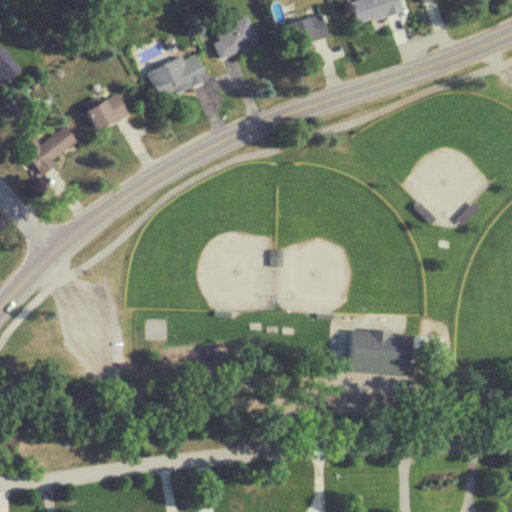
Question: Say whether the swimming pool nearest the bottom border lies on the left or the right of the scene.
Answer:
left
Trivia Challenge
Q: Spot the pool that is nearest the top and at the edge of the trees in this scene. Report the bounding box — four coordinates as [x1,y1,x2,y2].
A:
[272,0,284,24]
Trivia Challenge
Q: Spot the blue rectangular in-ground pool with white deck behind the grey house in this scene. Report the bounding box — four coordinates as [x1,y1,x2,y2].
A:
[132,42,168,68]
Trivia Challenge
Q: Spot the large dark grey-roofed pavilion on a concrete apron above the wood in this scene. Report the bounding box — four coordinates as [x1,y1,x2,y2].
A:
[351,327,405,374]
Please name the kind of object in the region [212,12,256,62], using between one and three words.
house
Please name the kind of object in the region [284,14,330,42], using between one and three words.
house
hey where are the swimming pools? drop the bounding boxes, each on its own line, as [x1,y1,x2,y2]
[132,42,168,68]
[272,0,284,24]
